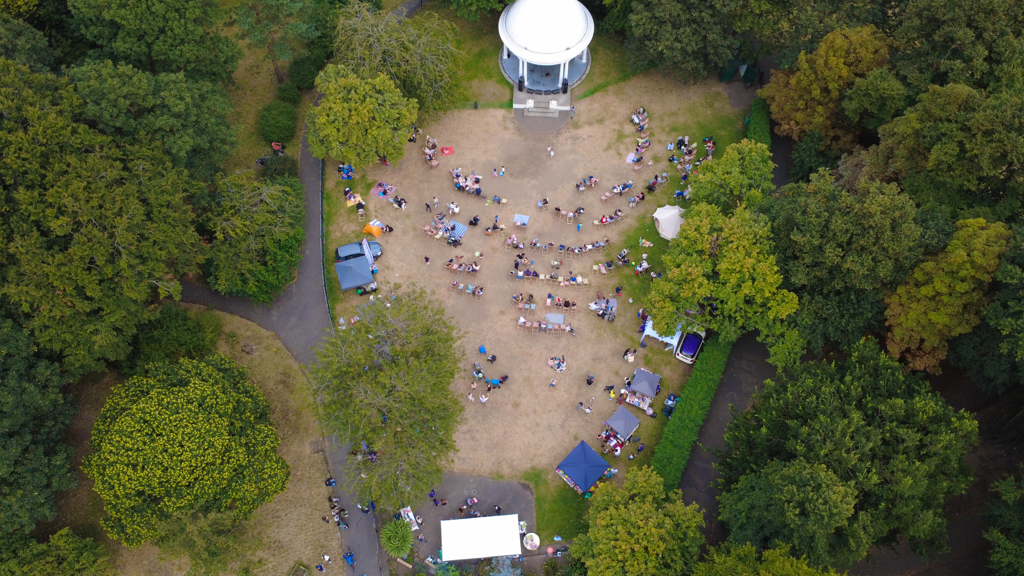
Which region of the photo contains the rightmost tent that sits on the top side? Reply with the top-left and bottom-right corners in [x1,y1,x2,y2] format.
[641,201,693,250]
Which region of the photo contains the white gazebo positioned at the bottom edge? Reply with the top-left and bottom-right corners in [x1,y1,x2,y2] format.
[442,513,523,562]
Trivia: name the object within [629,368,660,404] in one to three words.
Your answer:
gazebo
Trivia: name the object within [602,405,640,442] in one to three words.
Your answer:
gazebo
